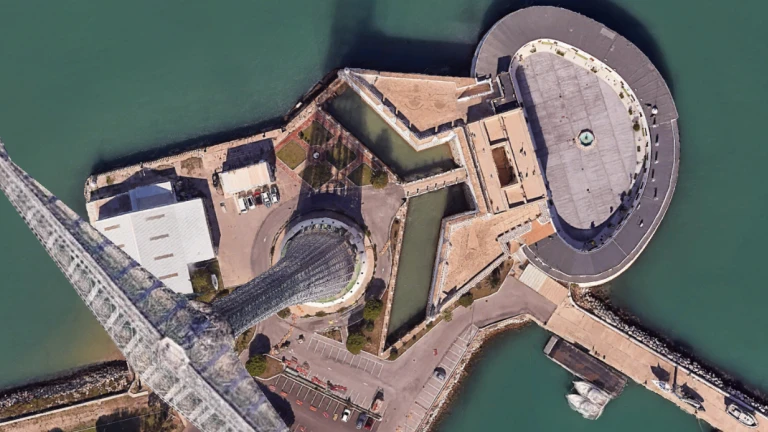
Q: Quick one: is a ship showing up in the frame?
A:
Yes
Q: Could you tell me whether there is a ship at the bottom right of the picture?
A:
Yes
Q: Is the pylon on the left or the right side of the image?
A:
left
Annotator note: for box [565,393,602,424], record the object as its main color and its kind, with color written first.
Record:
white boat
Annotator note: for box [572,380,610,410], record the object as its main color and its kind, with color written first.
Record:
white boat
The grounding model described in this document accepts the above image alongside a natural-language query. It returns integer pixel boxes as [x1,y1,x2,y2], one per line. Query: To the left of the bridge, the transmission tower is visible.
[0,138,365,432]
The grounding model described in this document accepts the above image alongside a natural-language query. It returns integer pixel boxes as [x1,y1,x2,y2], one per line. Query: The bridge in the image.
[401,168,464,196]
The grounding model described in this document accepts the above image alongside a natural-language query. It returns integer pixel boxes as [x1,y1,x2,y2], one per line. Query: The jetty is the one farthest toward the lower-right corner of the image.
[544,284,768,432]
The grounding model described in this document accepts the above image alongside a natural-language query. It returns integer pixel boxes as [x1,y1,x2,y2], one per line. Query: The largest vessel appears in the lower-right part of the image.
[542,334,625,396]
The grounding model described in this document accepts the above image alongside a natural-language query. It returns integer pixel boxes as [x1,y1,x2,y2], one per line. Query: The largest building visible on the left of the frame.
[93,196,222,296]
